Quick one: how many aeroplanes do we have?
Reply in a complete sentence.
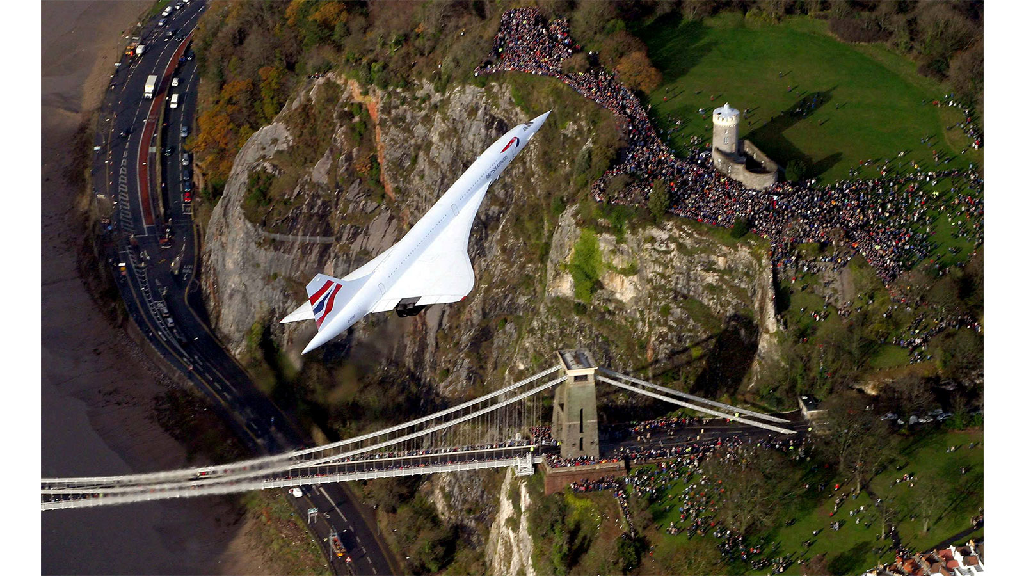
Just 1 aeroplane appears in this view.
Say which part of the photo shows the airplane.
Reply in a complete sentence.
The airplane is located in the center region of the scene.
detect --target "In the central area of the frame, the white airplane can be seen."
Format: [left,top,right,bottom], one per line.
[277,110,552,355]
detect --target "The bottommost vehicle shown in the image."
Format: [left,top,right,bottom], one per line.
[327,530,347,549]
